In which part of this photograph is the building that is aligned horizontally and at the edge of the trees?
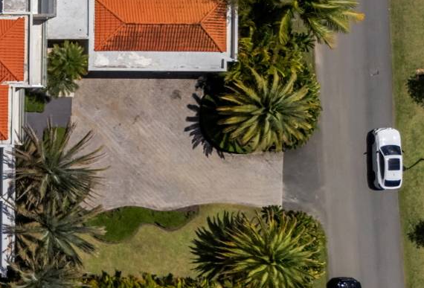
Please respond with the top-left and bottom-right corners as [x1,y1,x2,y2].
[77,0,238,73]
